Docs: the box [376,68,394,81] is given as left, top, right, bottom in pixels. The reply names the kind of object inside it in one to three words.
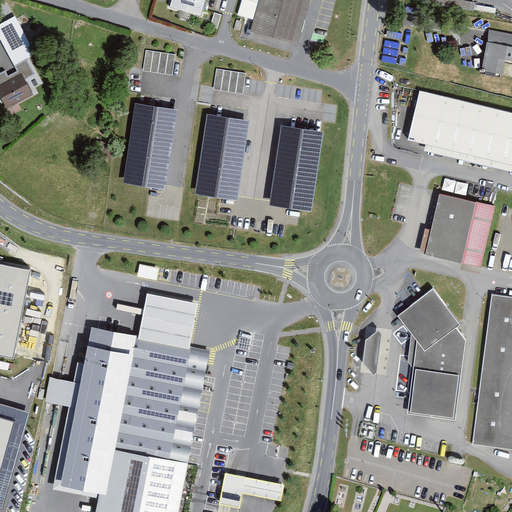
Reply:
vehicle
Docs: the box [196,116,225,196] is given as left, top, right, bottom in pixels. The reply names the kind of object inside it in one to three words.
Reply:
solar array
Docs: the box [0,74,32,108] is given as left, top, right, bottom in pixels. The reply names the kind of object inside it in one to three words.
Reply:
house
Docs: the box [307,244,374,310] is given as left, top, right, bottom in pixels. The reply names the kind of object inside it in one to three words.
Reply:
roundabout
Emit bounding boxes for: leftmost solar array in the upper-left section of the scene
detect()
[2,24,22,50]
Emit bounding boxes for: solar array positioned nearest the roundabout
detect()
[270,126,299,206]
